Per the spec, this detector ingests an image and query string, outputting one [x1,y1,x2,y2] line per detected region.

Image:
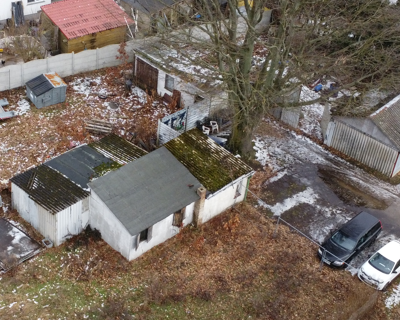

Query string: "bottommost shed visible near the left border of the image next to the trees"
[9,134,148,244]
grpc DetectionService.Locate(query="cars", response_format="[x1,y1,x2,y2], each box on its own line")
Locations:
[316,210,386,271]
[357,236,400,290]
